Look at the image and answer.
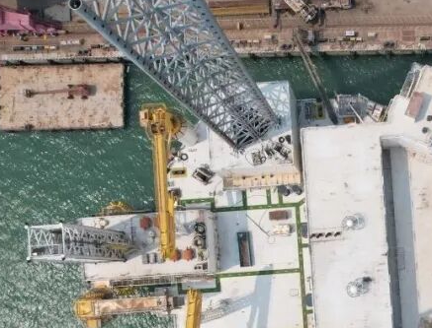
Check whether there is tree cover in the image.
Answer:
No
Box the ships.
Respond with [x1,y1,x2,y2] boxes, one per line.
[0,61,128,132]
[23,0,432,328]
